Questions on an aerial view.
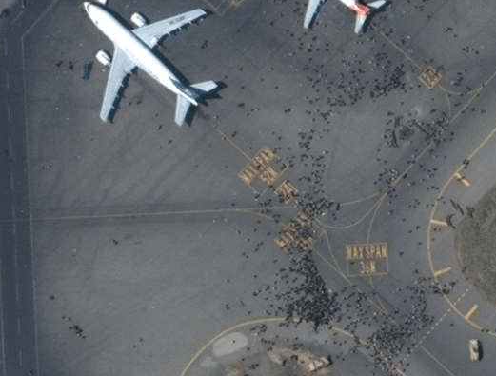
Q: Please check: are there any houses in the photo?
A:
No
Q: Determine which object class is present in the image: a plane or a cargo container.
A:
plane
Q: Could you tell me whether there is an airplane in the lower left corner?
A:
No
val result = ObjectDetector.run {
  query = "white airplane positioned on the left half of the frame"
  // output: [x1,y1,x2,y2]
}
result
[85,2,220,124]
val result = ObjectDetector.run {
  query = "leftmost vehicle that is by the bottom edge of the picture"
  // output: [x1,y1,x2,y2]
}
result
[305,358,329,373]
